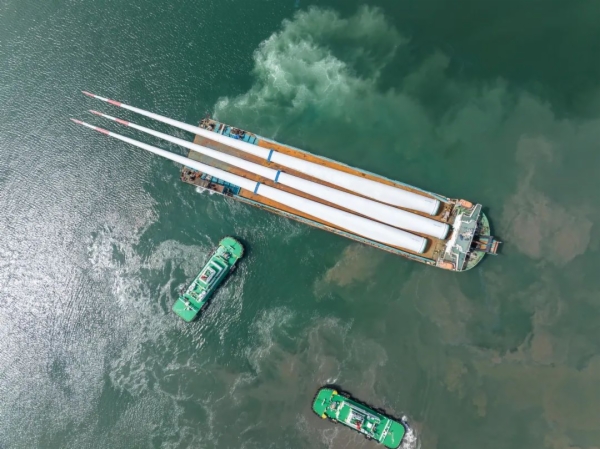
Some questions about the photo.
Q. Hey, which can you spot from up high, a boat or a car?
boat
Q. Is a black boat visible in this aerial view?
No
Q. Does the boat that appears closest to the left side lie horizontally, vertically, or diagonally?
diagonally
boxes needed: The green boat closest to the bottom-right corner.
[311,385,405,449]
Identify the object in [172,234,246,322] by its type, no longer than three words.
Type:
boat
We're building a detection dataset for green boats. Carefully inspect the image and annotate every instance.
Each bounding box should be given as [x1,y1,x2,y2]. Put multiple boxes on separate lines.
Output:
[311,385,405,449]
[172,234,246,322]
